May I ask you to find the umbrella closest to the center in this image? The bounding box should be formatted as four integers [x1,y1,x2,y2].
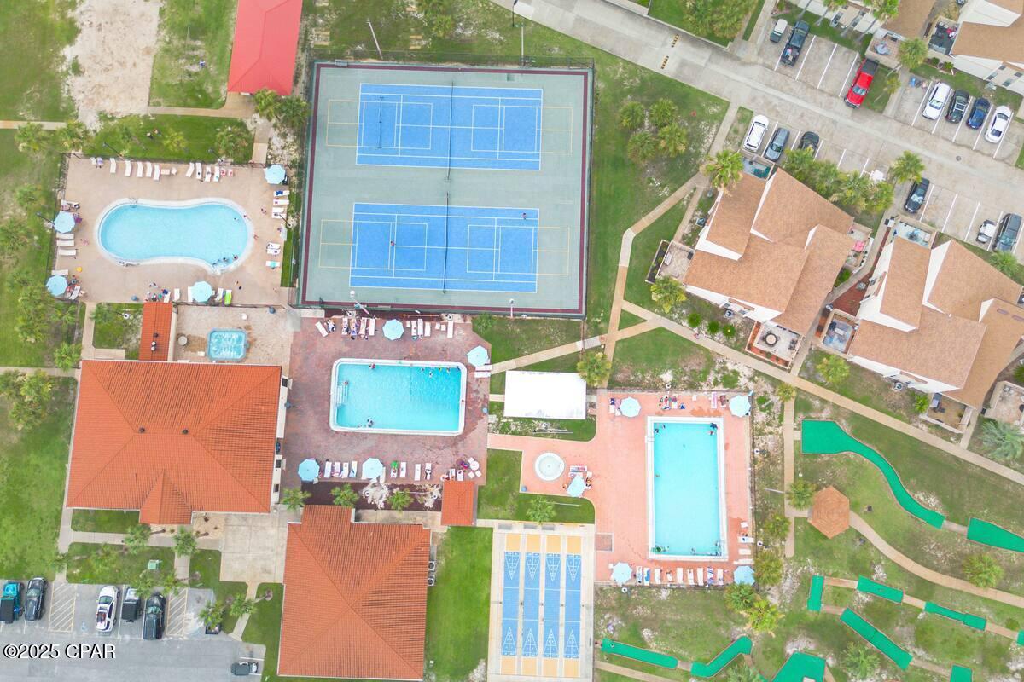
[467,344,488,366]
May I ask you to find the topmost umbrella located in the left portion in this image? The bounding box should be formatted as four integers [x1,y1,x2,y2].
[266,163,287,183]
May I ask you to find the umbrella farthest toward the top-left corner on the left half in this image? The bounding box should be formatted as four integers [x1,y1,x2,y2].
[55,213,78,233]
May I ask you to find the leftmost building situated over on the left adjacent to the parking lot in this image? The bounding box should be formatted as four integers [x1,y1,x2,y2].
[65,358,288,525]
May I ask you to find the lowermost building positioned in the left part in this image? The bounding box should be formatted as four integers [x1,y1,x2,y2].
[277,504,433,682]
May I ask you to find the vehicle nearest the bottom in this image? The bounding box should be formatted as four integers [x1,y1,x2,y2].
[228,659,260,679]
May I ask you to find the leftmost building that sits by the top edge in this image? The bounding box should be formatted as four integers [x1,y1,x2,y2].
[227,0,305,98]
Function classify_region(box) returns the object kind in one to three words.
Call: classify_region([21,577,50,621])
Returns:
car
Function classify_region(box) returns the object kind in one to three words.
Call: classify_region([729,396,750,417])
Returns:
umbrella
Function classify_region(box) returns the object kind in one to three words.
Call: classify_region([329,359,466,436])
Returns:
swimming pool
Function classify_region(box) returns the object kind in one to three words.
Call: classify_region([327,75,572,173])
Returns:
tennis court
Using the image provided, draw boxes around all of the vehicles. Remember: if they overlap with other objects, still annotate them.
[973,219,999,245]
[843,56,881,110]
[794,127,822,153]
[0,582,25,623]
[142,593,169,639]
[777,20,811,69]
[21,577,50,621]
[963,97,990,132]
[742,114,769,153]
[902,175,932,214]
[763,125,791,161]
[983,104,1012,145]
[942,89,970,126]
[119,590,142,624]
[768,16,787,43]
[920,80,953,121]
[991,210,1024,254]
[94,585,122,633]
[228,659,260,679]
